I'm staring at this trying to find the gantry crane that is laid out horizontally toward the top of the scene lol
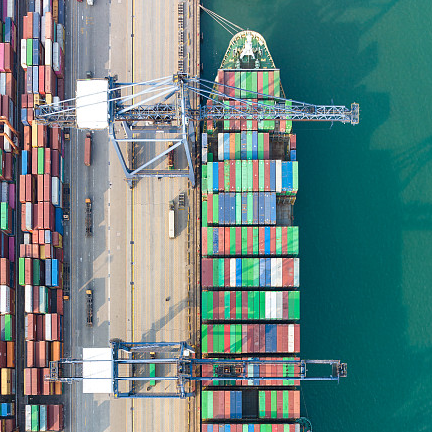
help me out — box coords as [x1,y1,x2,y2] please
[34,65,358,198]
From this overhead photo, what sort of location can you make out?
port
